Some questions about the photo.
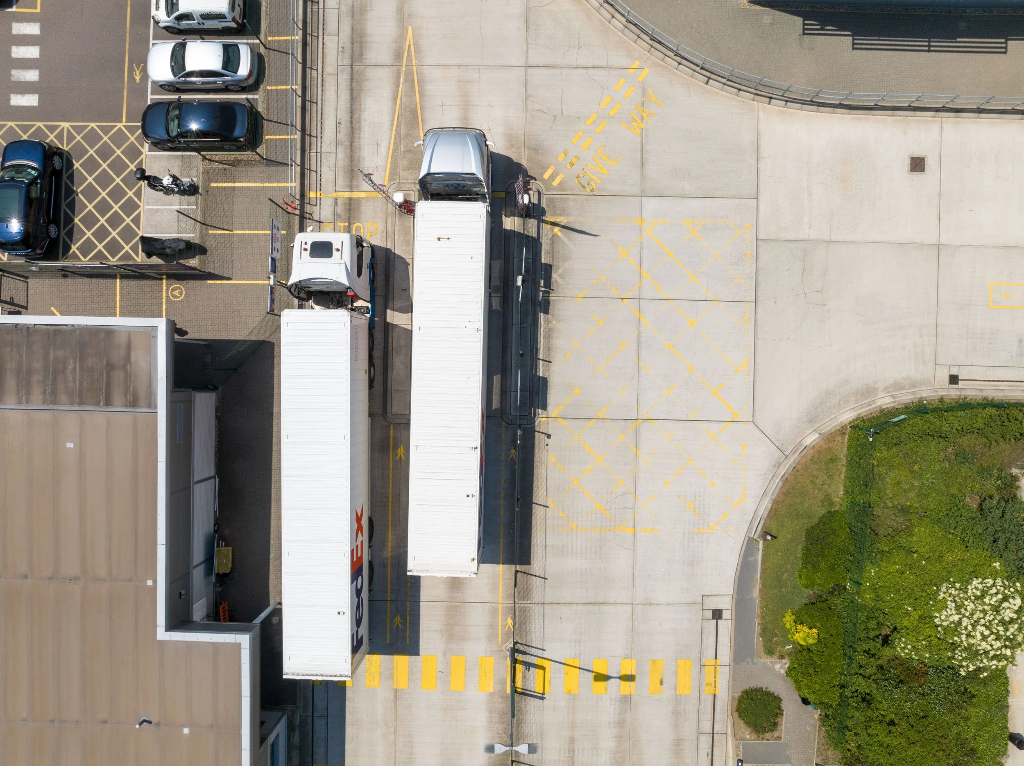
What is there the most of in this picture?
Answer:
paved ground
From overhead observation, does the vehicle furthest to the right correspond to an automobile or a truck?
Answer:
truck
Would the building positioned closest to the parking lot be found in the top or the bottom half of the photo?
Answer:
bottom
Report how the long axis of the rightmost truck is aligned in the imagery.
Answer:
from top to bottom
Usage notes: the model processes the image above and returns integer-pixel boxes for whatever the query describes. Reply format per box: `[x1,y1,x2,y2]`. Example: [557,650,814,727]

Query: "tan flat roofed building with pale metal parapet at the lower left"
[0,316,288,766]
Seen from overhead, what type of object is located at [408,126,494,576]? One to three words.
truck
